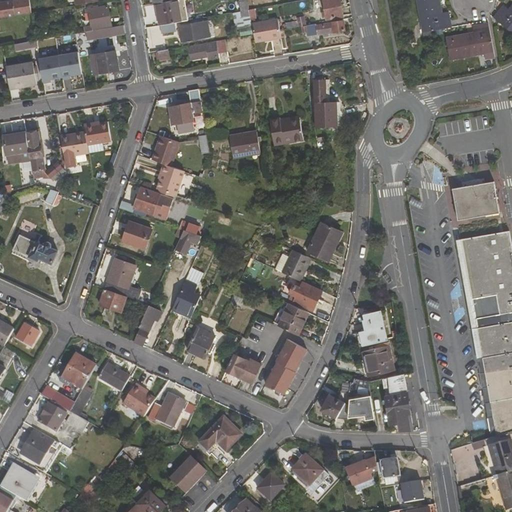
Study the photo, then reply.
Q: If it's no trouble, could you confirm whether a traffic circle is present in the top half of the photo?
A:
Yes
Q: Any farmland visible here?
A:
No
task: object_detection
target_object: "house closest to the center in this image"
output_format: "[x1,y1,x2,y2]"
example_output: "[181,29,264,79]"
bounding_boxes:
[276,250,312,281]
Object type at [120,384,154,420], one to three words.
house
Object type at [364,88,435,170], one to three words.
roundabout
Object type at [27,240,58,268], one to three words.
house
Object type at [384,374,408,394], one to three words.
building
